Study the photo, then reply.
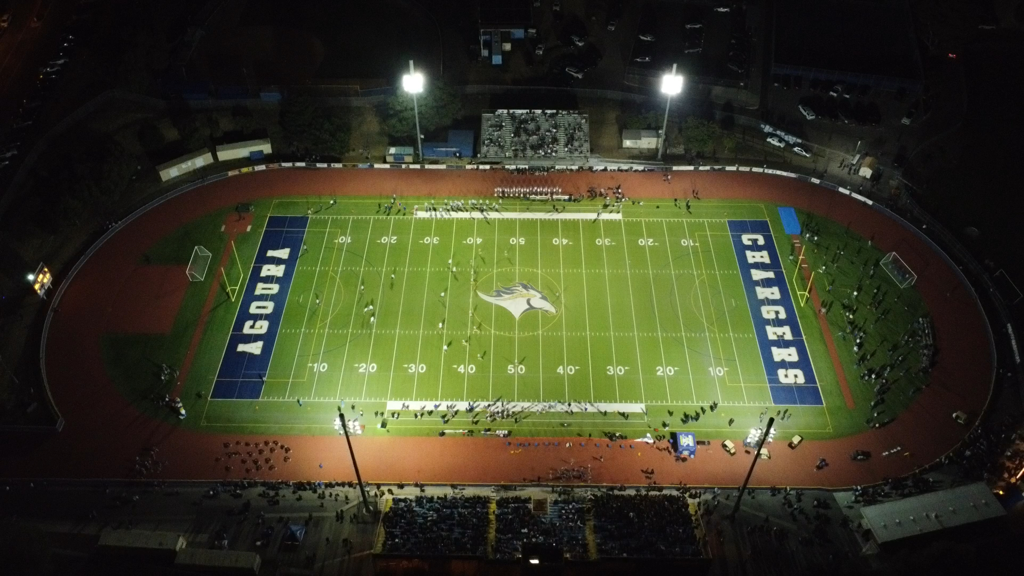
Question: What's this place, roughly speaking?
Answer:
sports ground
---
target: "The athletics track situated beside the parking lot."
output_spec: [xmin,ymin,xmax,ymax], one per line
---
[0,167,993,490]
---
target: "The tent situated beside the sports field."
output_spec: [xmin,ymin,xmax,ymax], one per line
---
[674,430,700,458]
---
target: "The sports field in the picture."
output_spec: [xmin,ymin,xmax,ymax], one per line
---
[183,195,850,440]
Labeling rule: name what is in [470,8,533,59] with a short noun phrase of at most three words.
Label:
building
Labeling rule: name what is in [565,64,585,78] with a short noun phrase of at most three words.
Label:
car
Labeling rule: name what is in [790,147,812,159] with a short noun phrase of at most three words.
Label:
vehicle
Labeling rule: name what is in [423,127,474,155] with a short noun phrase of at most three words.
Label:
building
